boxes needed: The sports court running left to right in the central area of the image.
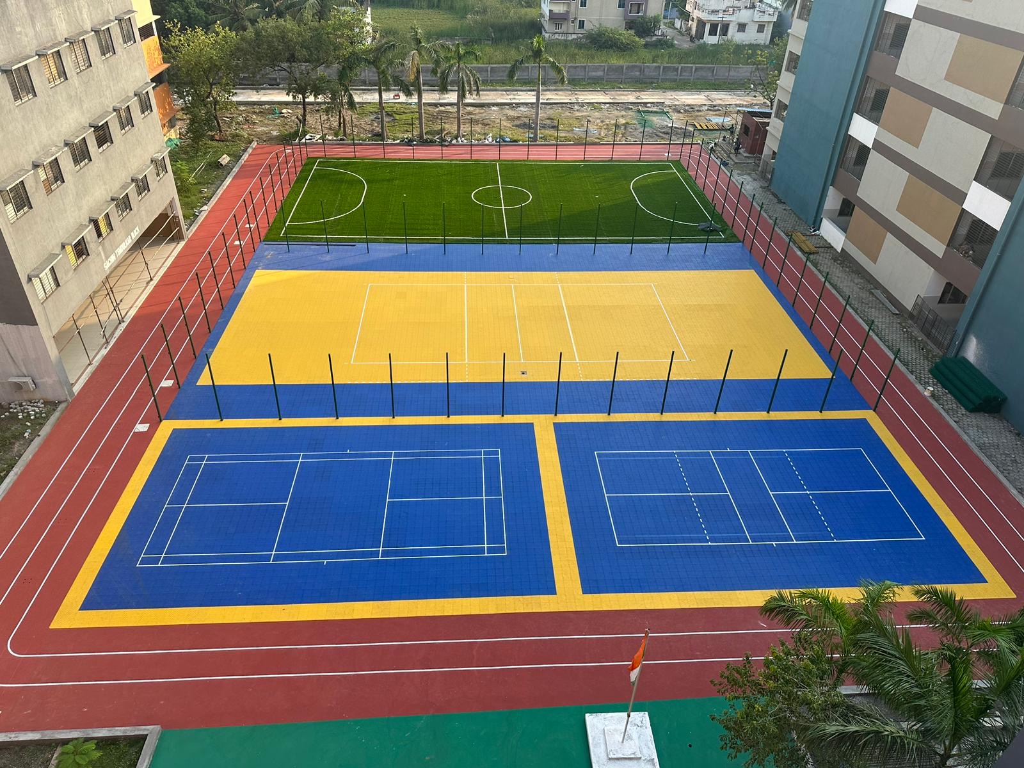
[163,242,873,421]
